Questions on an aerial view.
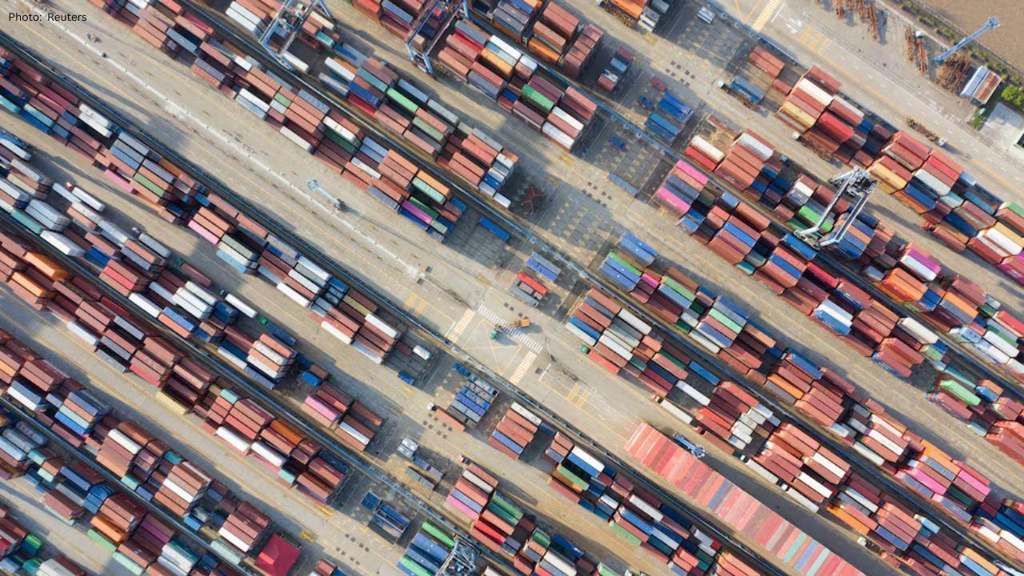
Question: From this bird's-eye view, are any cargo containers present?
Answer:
Yes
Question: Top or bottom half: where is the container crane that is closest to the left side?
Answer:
top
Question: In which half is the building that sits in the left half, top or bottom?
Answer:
bottom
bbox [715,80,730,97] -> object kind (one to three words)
vehicle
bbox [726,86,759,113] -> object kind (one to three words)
shipping container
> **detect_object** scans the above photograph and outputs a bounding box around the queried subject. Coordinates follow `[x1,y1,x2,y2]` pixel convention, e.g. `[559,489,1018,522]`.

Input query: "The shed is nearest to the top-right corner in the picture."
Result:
[959,66,999,108]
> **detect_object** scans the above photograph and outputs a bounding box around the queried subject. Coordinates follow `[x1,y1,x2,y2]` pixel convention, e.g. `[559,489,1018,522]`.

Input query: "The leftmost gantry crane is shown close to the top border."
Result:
[257,0,341,74]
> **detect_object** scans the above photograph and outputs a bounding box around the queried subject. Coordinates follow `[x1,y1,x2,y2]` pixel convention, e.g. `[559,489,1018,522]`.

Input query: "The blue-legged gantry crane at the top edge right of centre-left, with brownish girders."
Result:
[399,0,465,82]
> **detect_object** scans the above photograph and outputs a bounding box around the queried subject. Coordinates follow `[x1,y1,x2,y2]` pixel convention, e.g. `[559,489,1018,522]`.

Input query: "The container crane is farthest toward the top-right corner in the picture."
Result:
[793,166,880,251]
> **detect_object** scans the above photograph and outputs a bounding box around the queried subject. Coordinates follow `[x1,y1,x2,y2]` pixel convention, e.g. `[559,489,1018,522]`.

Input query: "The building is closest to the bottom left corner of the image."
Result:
[254,532,305,576]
